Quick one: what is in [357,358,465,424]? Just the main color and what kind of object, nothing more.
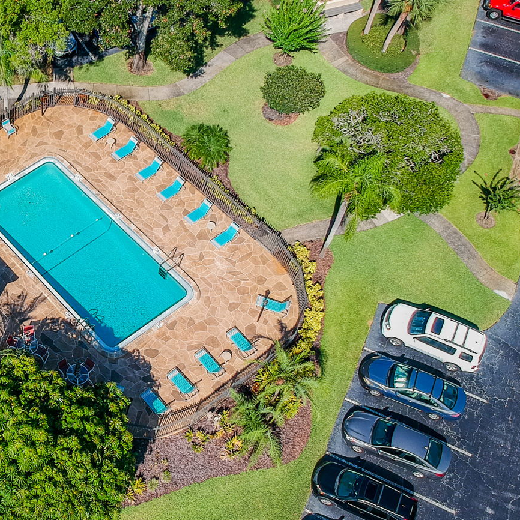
blue car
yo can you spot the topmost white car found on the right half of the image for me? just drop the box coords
[377,306,486,376]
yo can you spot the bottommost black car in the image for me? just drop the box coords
[306,461,417,520]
